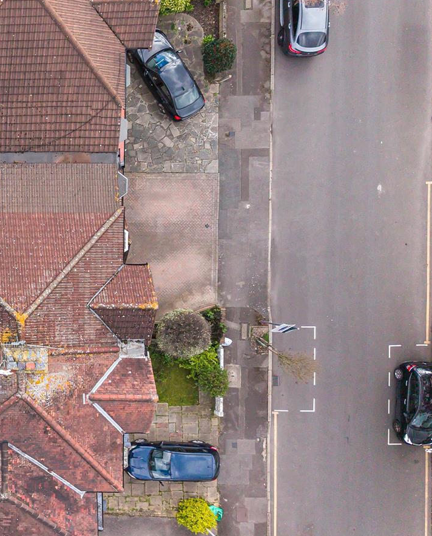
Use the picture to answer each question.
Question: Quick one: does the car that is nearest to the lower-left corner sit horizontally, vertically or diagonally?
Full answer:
Seen from above, the car that is nearest to the lower-left corner lies horizontally.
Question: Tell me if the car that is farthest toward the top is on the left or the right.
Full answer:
The car that is farthest toward the top sits on the right side.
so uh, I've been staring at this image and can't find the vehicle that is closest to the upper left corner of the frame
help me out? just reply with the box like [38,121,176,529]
[132,33,203,123]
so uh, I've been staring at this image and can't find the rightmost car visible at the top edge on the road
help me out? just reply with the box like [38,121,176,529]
[274,0,325,55]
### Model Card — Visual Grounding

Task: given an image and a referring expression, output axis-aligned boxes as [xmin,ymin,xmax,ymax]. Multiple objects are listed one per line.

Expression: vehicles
[274,0,325,55]
[125,437,215,483]
[132,33,203,123]
[391,362,432,443]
